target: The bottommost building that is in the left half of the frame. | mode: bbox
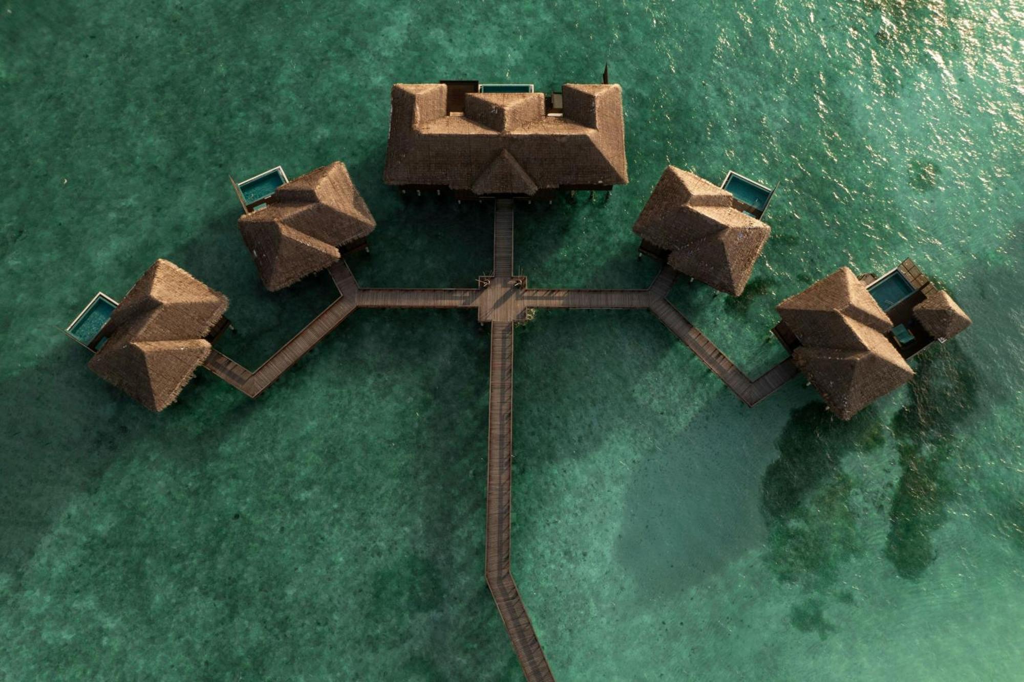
[52,258,237,414]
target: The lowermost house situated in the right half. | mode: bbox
[767,266,947,422]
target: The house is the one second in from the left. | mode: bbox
[228,161,375,291]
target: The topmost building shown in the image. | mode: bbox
[383,61,631,209]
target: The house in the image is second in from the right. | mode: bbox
[631,166,781,298]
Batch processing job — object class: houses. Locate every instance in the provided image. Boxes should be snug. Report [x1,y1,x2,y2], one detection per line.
[631,166,781,298]
[383,61,631,209]
[767,266,947,422]
[228,161,375,291]
[52,258,237,414]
